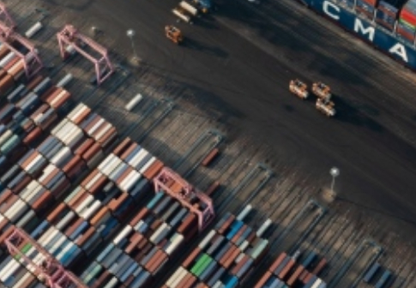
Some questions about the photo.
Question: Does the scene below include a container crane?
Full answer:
Yes, the photo shows a container crane.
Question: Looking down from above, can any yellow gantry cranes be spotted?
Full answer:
No, there isn't any yellow gantry crane down there.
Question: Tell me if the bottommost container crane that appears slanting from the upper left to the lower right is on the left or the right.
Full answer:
The bottommost container crane that appears slanting from the upper left to the lower right sits on the left side.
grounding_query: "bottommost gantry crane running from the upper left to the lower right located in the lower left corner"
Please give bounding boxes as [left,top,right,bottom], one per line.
[2,227,68,288]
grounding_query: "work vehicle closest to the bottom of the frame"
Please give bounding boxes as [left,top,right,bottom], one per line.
[320,96,340,119]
